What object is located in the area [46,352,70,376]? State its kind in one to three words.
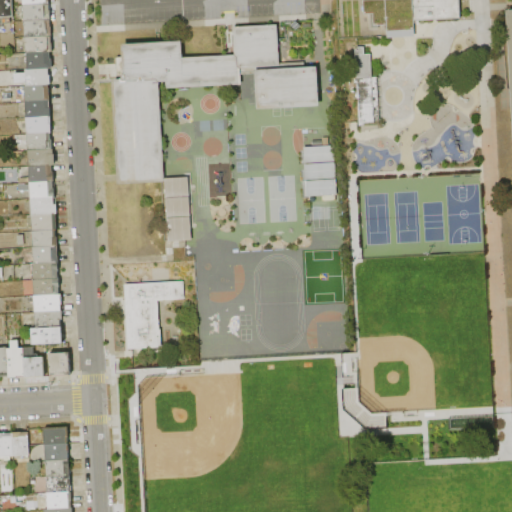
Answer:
house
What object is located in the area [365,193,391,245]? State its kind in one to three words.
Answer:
tennis court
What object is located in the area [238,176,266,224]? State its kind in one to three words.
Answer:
basketball court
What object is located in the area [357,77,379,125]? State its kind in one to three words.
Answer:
building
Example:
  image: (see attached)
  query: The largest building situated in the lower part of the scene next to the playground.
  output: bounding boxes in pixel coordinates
[124,280,184,350]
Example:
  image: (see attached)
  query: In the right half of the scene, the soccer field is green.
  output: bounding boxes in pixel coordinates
[303,250,344,304]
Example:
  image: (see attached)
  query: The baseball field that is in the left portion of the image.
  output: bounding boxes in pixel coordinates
[141,372,244,480]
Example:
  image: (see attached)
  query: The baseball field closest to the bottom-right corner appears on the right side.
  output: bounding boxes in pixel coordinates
[358,335,436,411]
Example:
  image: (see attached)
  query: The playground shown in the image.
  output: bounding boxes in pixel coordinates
[160,13,340,261]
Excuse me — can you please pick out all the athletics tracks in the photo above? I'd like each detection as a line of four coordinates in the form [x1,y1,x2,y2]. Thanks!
[255,254,306,350]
